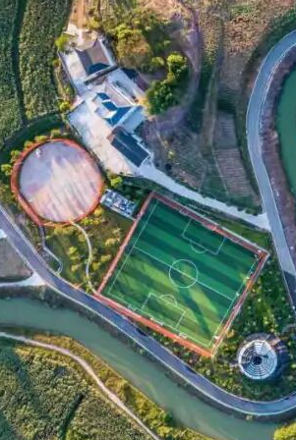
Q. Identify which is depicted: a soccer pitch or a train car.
soccer pitch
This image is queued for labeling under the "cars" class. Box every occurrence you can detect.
[135,328,146,337]
[185,365,196,375]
